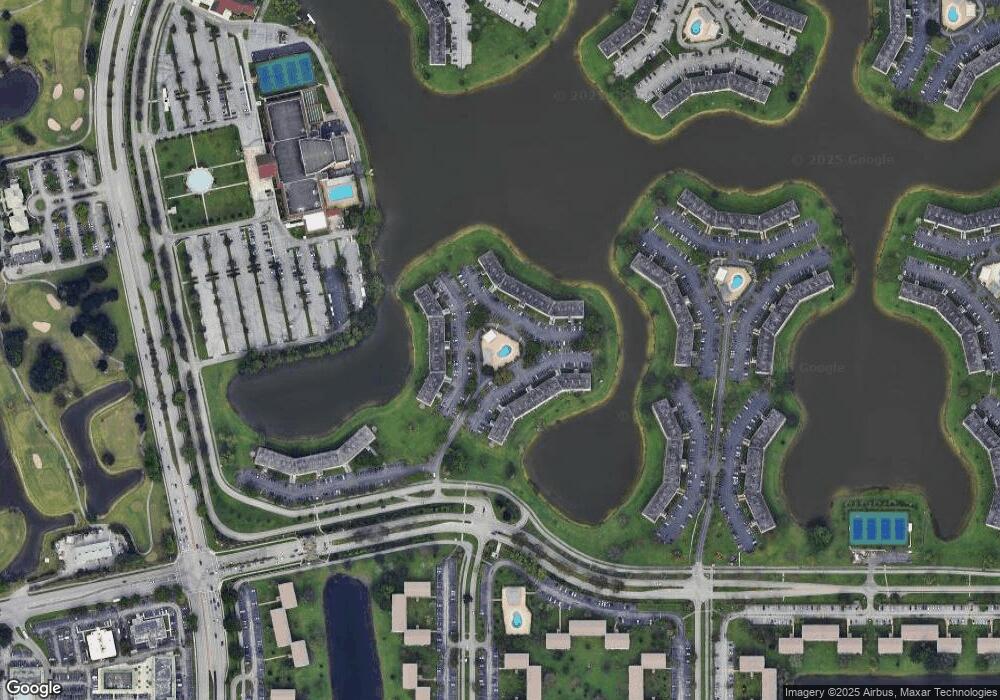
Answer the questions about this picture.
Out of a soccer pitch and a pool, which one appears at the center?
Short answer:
pool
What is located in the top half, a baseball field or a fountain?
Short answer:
fountain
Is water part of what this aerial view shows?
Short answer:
Yes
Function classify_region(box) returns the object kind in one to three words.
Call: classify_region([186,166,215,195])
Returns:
fountain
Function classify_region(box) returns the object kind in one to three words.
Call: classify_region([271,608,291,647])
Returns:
building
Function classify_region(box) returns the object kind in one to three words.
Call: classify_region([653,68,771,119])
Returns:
building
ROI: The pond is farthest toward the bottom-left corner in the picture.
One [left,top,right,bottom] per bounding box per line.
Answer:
[0,415,77,583]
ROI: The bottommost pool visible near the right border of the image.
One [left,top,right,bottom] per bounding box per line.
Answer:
[979,264,1000,301]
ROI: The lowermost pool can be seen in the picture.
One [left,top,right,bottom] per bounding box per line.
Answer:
[502,587,531,635]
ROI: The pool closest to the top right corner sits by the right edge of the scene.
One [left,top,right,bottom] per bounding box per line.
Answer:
[941,0,978,30]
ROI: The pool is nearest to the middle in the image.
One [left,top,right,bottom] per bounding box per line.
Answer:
[482,329,520,370]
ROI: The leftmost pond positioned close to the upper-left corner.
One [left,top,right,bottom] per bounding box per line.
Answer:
[0,68,39,121]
